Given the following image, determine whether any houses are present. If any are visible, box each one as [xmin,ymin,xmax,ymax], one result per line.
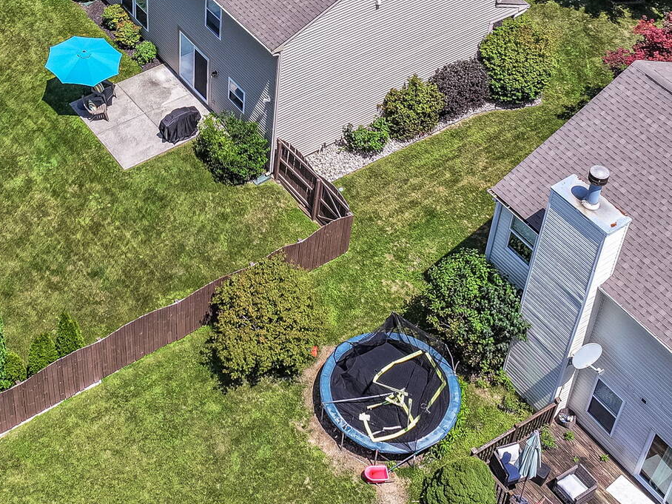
[478,60,672,504]
[105,0,533,175]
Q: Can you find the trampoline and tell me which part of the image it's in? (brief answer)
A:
bottom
